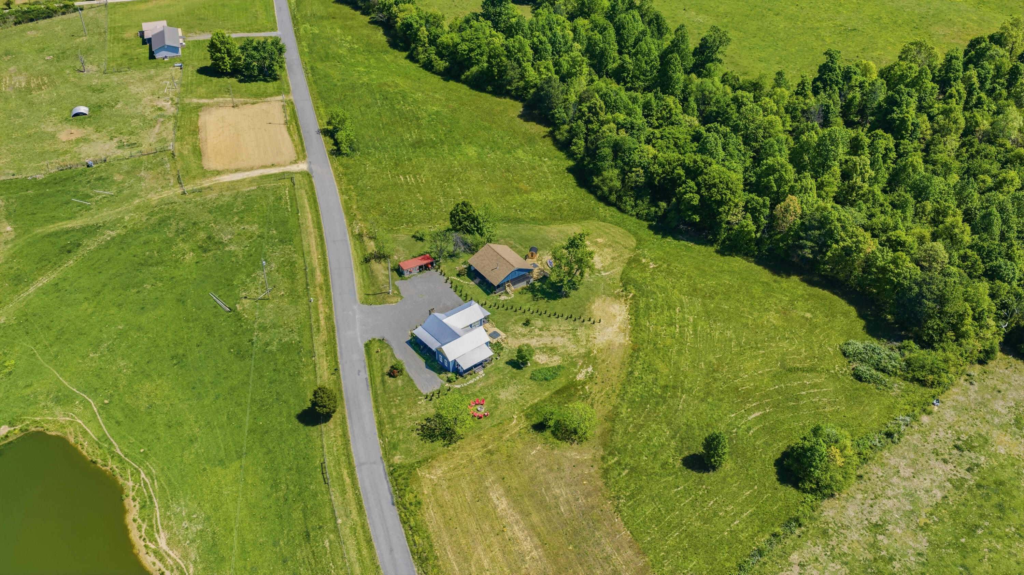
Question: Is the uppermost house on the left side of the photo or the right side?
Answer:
left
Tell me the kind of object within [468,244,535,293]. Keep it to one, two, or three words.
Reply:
house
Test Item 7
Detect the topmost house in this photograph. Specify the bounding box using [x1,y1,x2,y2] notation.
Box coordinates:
[140,20,186,59]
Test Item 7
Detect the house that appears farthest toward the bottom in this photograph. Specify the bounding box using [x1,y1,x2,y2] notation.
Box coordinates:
[414,300,512,375]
